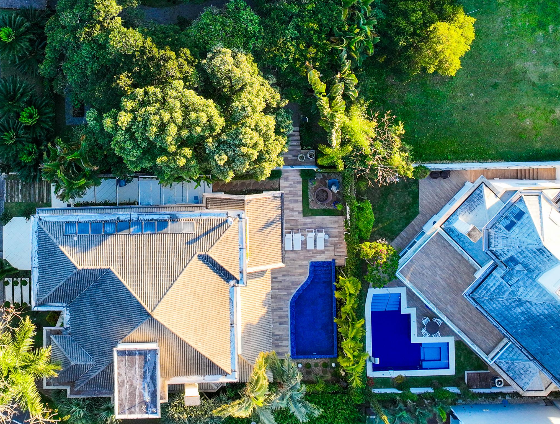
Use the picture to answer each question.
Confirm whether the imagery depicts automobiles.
No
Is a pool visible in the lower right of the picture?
Yes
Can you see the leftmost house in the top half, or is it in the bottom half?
bottom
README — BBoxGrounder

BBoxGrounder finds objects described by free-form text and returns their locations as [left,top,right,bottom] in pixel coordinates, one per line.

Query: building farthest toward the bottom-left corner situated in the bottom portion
[30,183,288,424]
